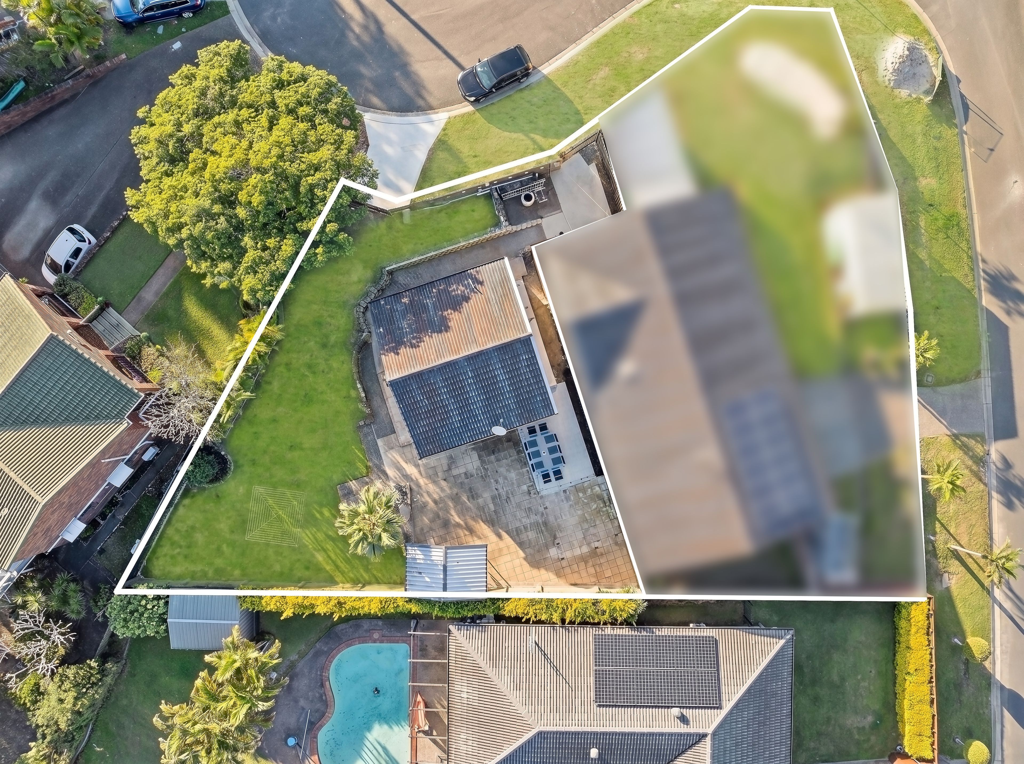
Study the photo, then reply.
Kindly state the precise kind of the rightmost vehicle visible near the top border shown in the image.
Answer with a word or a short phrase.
car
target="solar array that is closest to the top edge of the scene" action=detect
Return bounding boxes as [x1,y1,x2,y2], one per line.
[728,386,821,545]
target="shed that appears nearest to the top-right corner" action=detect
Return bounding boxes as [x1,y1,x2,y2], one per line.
[799,197,910,326]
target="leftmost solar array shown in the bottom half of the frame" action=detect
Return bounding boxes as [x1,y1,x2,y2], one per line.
[595,633,726,705]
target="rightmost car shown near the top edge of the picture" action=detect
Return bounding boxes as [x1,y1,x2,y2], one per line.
[455,38,537,100]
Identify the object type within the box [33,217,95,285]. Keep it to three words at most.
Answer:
car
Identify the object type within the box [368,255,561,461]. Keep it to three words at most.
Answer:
shed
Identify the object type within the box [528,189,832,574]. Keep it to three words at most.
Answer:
house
